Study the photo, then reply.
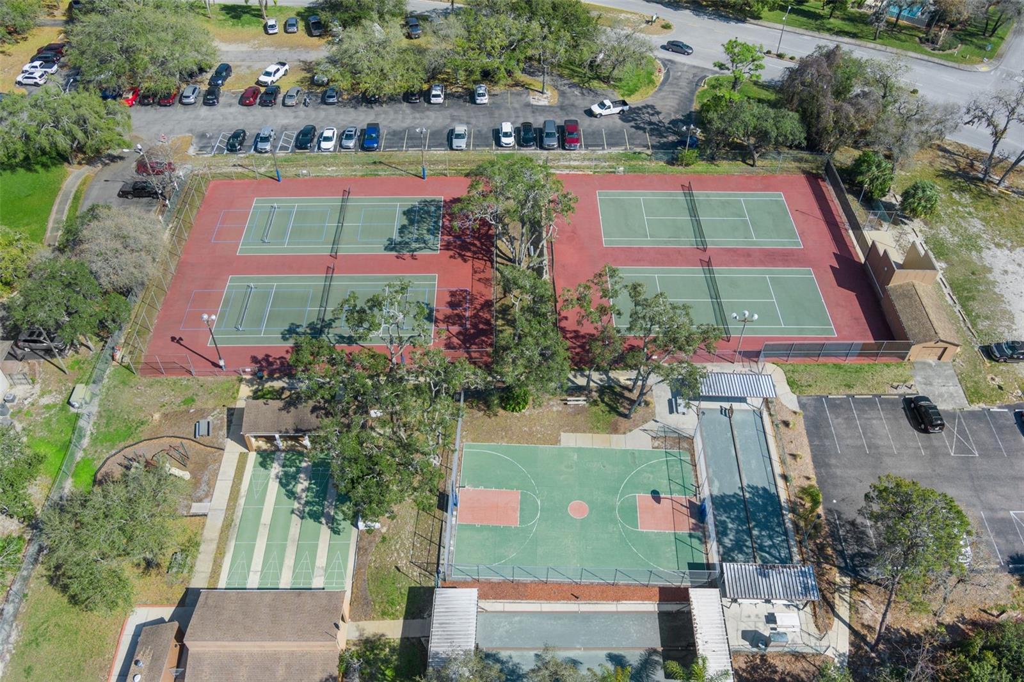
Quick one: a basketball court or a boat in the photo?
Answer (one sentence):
This aerial view contains a basketball court.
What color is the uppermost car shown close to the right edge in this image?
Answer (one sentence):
The uppermost car shown close to the right edge looks black in the image.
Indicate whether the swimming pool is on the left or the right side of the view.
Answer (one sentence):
It is on the right.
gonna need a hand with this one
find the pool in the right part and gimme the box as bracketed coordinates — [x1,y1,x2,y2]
[859,0,934,25]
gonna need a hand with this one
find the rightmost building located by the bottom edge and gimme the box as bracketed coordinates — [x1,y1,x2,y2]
[179,589,348,682]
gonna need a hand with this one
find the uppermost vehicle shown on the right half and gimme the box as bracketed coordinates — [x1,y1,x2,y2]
[664,38,696,55]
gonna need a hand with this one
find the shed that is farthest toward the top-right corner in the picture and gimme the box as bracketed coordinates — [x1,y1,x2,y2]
[880,278,955,356]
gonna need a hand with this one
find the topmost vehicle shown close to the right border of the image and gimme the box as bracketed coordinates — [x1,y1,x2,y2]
[993,339,1024,362]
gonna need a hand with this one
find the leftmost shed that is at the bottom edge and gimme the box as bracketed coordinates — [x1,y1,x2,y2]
[127,622,185,682]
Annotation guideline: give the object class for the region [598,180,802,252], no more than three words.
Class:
tennis court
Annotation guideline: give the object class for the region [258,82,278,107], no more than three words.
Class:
vehicle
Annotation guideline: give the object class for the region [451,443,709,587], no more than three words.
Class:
basketball court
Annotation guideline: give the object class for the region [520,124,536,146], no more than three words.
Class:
car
